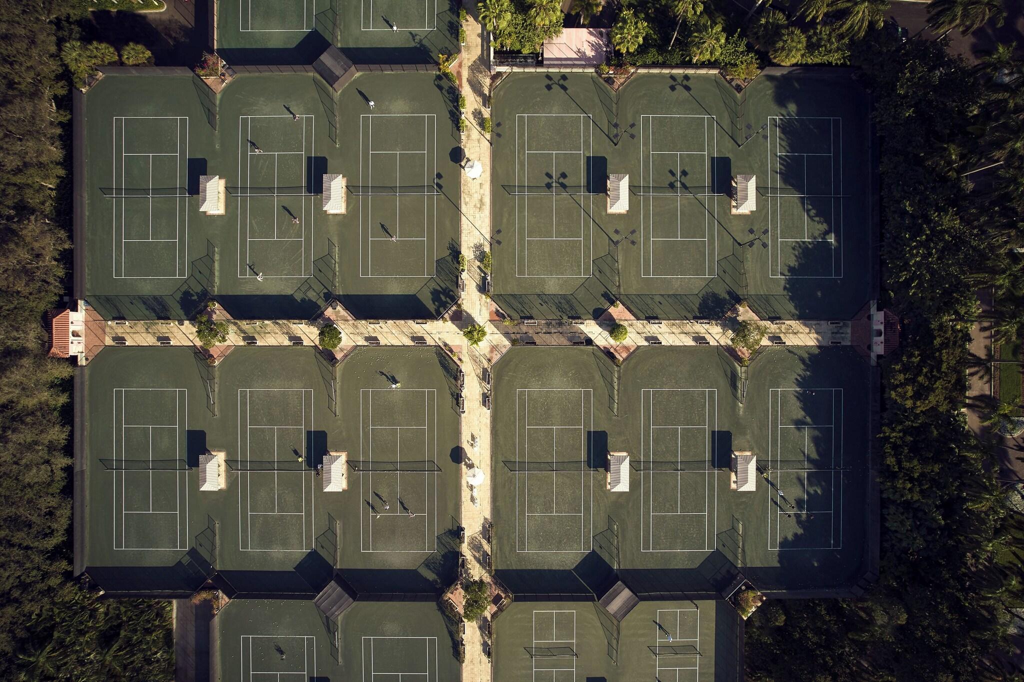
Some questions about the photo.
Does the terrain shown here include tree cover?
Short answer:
Yes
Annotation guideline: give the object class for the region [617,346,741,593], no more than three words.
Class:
tennis court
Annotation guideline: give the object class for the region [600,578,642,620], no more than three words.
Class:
shed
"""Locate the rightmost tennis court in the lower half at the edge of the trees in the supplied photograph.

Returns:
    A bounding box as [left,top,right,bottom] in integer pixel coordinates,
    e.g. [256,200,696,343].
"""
[741,346,869,593]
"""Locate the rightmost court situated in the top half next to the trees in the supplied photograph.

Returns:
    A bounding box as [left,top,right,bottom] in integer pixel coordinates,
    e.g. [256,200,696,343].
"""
[741,74,869,320]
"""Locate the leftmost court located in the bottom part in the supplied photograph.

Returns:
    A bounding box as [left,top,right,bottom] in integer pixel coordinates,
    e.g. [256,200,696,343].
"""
[86,346,217,593]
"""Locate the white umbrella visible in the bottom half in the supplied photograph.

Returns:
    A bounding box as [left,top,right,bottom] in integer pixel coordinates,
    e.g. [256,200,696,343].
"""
[467,466,485,484]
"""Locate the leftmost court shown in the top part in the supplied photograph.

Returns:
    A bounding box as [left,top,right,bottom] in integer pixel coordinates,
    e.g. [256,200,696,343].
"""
[86,74,217,320]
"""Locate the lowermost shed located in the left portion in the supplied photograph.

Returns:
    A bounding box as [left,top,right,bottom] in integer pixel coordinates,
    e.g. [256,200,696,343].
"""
[313,578,355,620]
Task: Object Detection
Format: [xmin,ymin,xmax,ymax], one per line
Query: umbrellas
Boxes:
[465,162,483,180]
[467,466,485,484]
